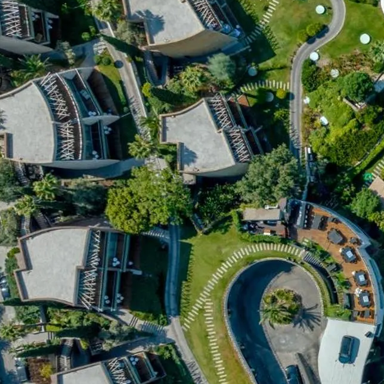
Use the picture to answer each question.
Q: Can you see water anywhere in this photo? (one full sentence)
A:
No, no water is visible.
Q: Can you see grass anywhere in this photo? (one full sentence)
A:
Yes, there is grass in the image.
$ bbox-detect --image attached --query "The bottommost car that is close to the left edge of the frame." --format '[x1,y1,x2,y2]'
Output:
[7,357,27,384]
